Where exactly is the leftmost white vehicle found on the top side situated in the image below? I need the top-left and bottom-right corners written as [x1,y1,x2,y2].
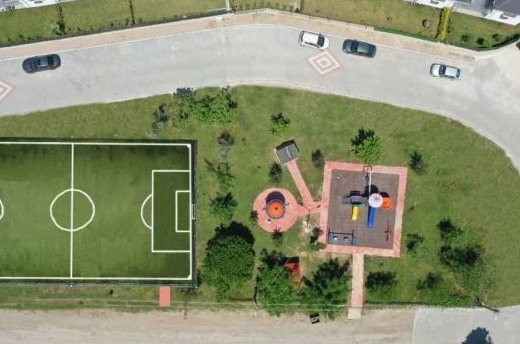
[297,30,330,51]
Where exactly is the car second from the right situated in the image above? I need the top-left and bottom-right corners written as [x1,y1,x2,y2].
[342,38,378,59]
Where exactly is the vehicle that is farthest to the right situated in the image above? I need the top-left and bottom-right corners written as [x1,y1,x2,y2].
[429,62,461,81]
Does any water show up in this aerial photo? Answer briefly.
No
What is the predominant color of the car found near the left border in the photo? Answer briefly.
black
